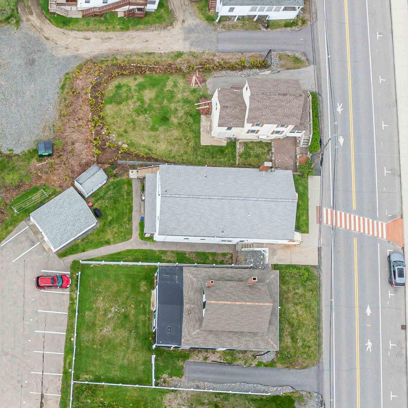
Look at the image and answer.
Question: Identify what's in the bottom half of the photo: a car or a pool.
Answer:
car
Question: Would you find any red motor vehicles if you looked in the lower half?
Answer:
Yes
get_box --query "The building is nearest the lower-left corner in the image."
[22,187,97,261]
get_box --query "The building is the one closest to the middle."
[129,160,303,264]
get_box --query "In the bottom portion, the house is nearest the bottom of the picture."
[155,267,279,351]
